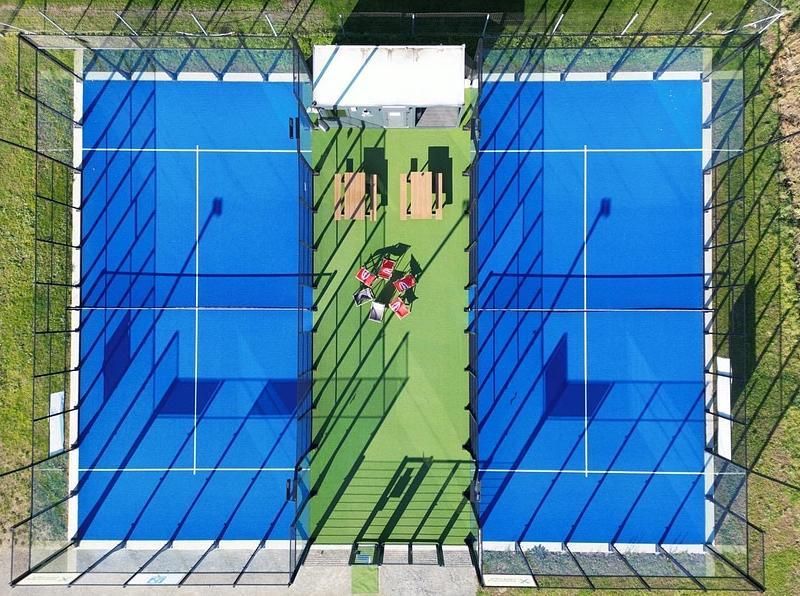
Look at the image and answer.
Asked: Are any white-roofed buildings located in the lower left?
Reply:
No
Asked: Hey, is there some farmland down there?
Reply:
No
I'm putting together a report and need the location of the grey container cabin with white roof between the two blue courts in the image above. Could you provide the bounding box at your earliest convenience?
[312,41,466,130]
